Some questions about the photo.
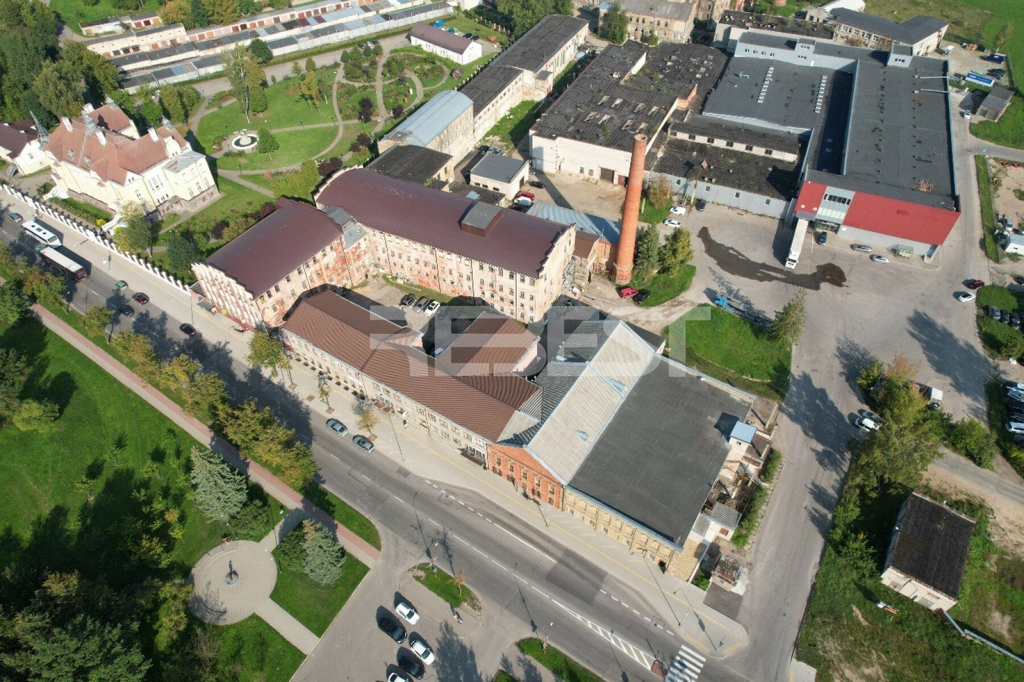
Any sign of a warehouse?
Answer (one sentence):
Yes, looking at the shot, I can spot a warehouse.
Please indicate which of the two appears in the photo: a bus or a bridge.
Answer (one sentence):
I can see a bus in this picture.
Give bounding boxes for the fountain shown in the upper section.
[230,129,258,148]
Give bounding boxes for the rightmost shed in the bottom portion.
[878,488,979,613]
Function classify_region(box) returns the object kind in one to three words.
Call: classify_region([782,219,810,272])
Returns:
truck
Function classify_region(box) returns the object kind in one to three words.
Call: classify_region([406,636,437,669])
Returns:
car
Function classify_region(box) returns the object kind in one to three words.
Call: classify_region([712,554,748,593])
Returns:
shed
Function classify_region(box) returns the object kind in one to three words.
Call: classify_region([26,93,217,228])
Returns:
house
